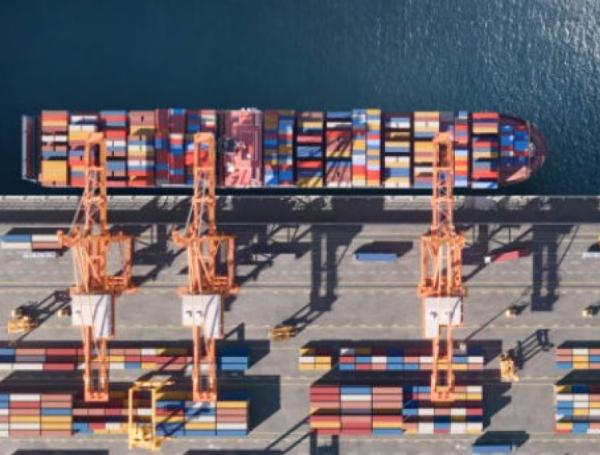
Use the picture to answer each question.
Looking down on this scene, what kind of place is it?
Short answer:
port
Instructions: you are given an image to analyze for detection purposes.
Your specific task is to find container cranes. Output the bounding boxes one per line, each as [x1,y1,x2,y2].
[176,134,248,402]
[59,134,148,402]
[411,134,471,402]
[128,377,172,447]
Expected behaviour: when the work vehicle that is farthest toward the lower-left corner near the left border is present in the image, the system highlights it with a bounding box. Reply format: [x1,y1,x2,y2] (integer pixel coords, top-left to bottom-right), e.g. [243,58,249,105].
[9,316,40,331]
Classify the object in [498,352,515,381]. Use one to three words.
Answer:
work vehicle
